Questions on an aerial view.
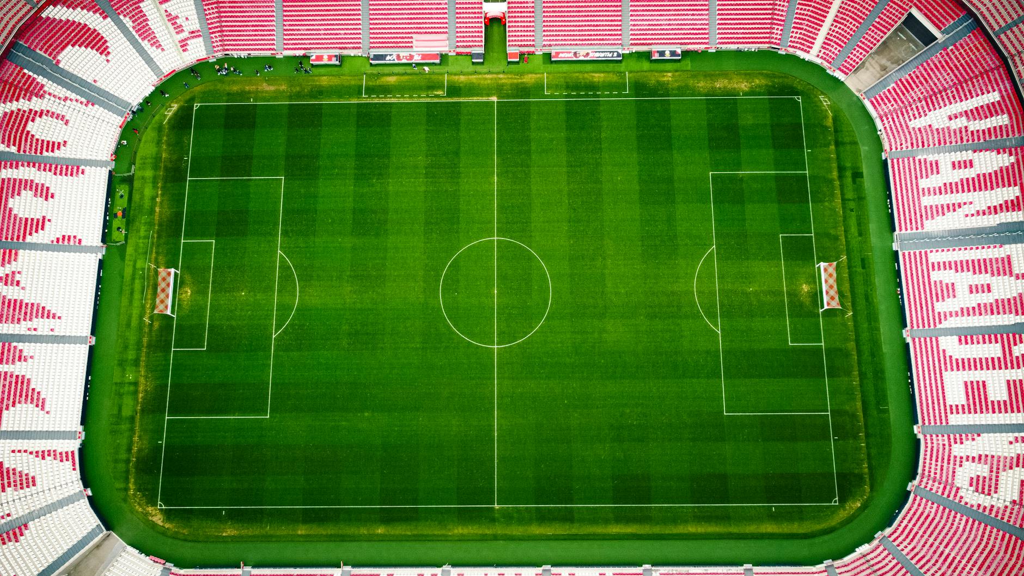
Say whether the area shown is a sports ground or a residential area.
sports ground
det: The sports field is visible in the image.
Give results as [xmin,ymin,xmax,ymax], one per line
[132,70,865,535]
